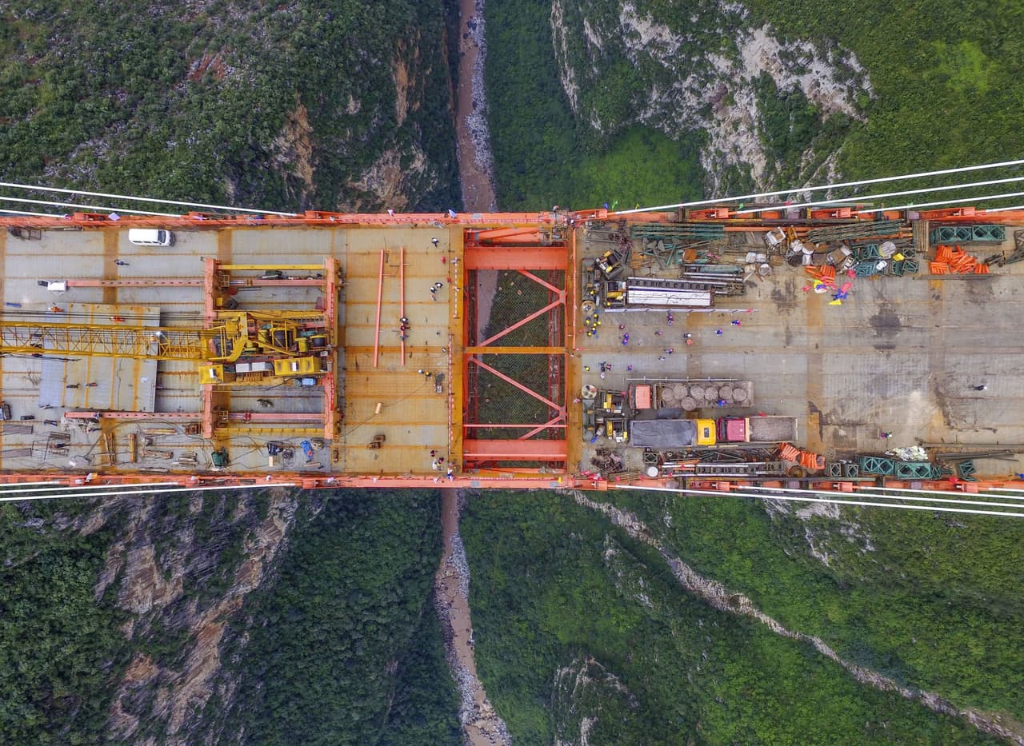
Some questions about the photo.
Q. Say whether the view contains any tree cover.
Yes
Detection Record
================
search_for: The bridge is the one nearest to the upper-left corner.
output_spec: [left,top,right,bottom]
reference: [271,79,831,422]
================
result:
[0,210,464,489]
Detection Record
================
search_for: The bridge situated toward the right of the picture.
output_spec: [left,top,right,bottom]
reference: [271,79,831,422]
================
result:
[571,200,1024,499]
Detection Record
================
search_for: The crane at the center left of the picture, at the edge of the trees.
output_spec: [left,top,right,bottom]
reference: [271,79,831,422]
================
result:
[0,256,344,442]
